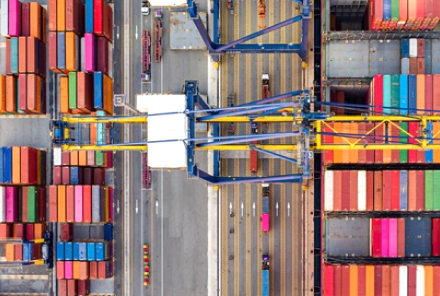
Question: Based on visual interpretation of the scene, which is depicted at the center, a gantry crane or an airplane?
gantry crane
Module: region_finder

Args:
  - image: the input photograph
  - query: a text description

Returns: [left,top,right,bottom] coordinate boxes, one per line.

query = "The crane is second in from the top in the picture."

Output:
[47,83,440,188]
